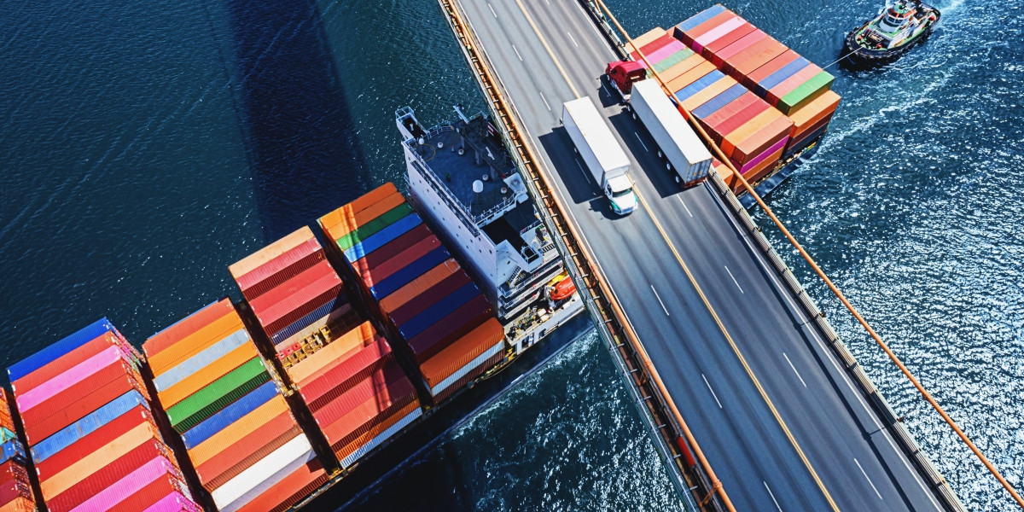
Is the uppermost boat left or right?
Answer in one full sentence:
The uppermost boat sits on the right side.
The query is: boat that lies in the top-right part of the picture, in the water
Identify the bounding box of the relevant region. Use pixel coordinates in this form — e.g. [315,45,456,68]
[837,0,948,72]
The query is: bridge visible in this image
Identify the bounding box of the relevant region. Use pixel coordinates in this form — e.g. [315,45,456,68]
[429,0,1024,512]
